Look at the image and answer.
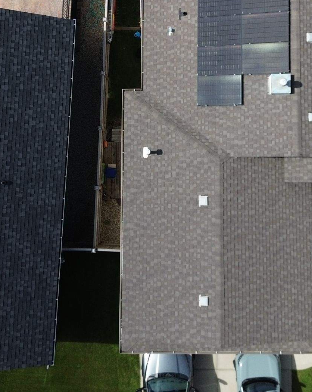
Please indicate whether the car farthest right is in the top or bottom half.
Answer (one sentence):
Seen from above, the car farthest right lies in the bottom half of the view.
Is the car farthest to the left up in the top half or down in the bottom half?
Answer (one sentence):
Seen from above, the car farthest to the left lies in the bottom half of the view.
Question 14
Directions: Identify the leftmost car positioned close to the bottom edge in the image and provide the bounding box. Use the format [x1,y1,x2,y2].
[138,355,200,392]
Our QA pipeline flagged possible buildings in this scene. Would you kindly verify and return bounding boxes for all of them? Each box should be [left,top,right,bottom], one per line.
[118,0,312,355]
[0,8,78,370]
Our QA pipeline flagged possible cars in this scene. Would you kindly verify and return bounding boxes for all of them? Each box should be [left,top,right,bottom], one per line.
[138,355,200,392]
[230,355,290,392]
